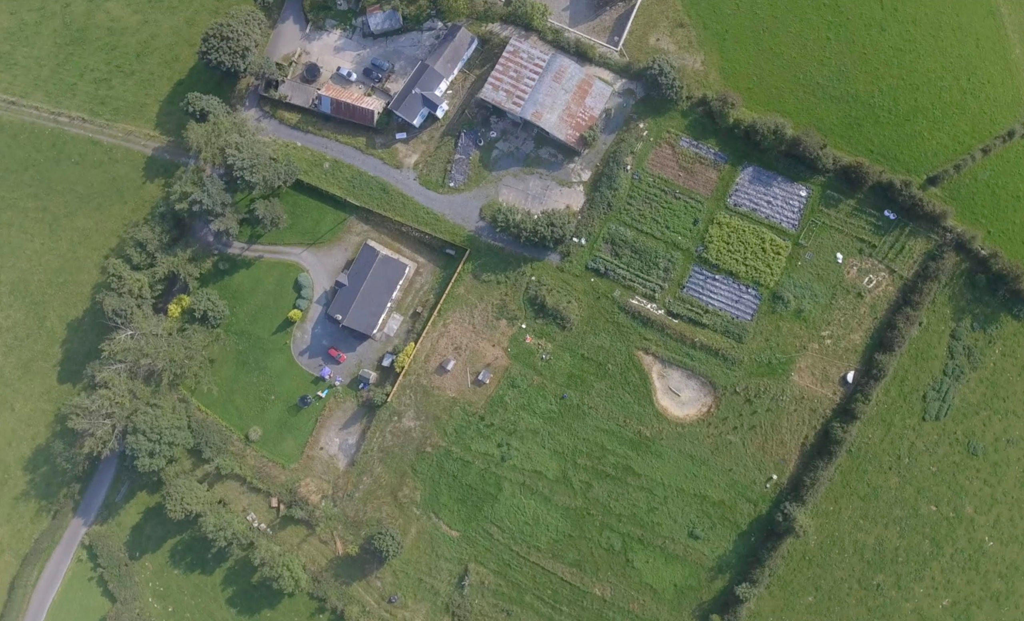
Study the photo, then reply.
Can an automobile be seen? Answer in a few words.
Yes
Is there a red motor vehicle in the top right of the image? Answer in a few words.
No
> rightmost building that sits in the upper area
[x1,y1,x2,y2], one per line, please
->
[477,38,613,155]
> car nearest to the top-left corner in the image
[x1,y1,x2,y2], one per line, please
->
[335,65,359,83]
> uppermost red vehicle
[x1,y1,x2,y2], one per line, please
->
[326,347,348,364]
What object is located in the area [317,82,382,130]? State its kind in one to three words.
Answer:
shed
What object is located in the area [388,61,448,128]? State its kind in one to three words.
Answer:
house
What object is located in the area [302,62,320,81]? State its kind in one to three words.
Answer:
trampoline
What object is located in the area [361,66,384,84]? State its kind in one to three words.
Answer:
car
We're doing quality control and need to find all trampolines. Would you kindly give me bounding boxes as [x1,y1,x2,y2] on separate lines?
[295,394,313,409]
[302,62,320,81]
